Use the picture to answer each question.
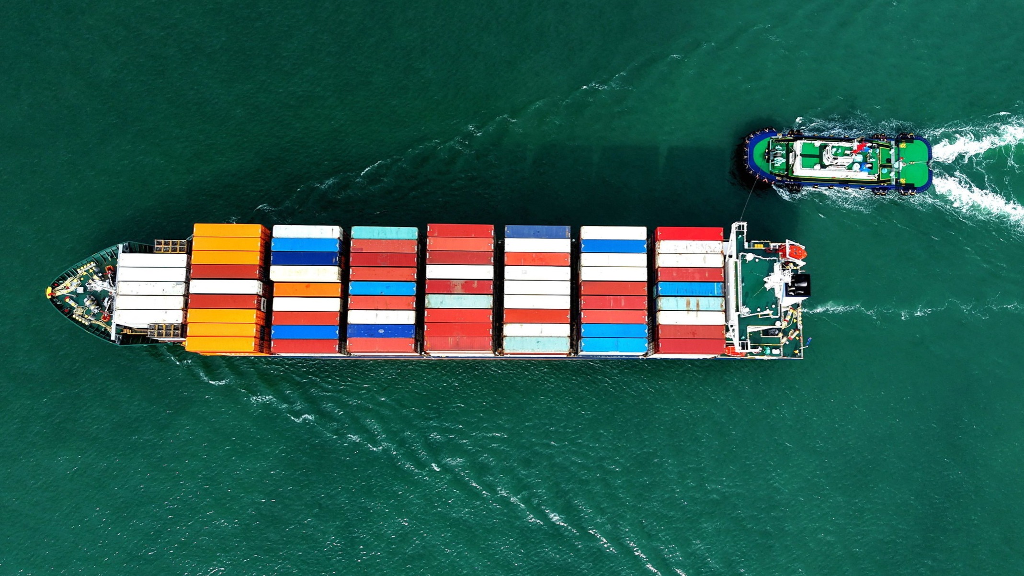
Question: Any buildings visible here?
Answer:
No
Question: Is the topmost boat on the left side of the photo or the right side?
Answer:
right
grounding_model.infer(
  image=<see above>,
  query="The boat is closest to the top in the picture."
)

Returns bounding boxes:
[739,126,933,195]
